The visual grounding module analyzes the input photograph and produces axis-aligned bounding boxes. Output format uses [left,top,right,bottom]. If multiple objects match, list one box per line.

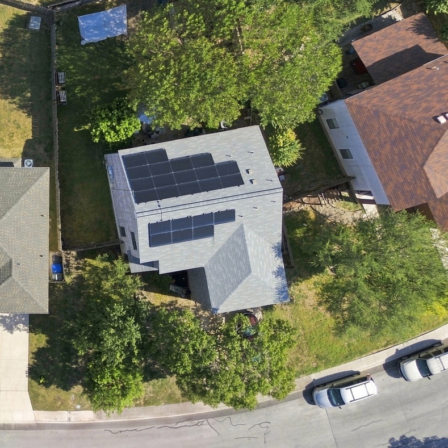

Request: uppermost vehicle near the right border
[396,338,448,377]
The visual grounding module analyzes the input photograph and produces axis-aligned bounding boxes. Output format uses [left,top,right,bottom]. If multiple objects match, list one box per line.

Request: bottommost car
[314,374,376,409]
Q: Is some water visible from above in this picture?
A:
No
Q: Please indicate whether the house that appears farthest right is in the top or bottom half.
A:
top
